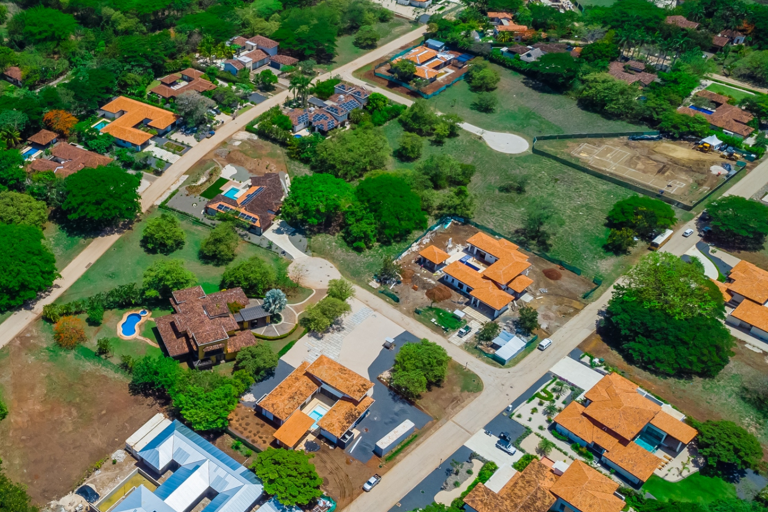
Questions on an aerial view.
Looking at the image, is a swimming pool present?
Yes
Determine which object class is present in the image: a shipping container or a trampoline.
shipping container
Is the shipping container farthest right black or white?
white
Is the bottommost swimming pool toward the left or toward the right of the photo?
left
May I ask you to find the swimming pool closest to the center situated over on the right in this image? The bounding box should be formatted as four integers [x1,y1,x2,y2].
[458,252,482,272]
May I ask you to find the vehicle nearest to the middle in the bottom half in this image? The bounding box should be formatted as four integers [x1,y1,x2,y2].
[454,324,475,339]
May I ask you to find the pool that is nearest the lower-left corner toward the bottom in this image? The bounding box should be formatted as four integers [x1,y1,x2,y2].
[98,468,156,512]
